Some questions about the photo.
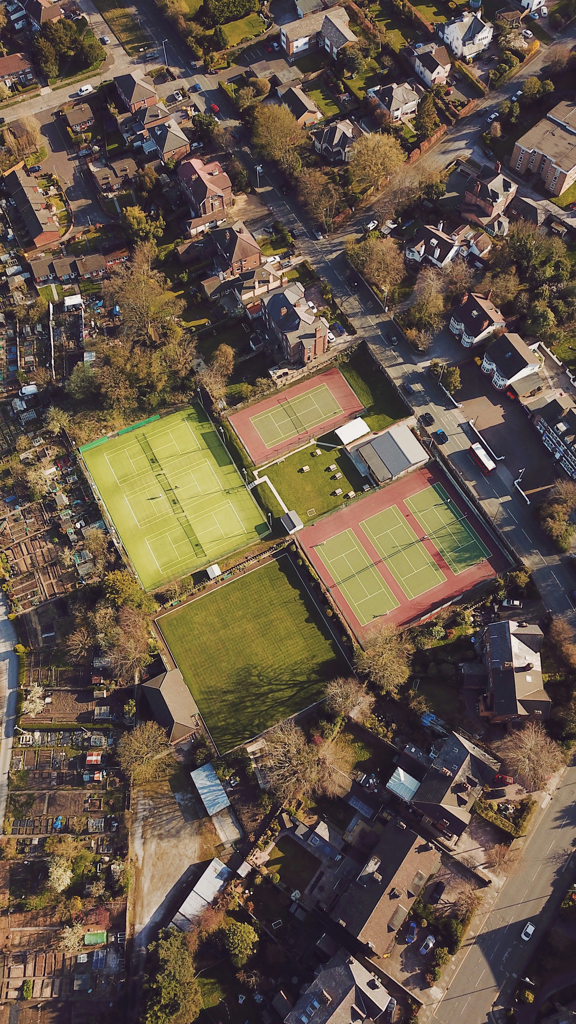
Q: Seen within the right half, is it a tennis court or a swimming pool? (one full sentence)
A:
Looking within the right half, you will find a tennis court.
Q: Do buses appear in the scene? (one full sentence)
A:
Yes, a bus appears in the view.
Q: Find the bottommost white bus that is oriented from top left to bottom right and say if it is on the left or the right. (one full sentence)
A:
The bottommost white bus that is oriented from top left to bottom right is on the right side of the image.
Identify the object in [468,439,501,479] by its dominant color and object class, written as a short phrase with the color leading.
white bus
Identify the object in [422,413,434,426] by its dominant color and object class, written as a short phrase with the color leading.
black vehicle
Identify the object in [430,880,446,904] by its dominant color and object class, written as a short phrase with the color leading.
black car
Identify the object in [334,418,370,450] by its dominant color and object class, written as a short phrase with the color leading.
white tent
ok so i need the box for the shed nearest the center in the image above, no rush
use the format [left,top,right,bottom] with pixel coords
[281,511,304,535]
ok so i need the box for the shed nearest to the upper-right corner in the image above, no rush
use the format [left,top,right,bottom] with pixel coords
[499,7,525,27]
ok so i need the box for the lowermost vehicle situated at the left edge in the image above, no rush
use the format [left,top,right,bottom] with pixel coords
[18,381,39,396]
